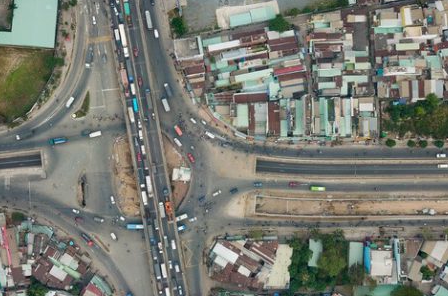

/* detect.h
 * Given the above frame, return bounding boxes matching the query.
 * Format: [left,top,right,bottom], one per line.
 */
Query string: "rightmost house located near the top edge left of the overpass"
[14,0,59,51]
